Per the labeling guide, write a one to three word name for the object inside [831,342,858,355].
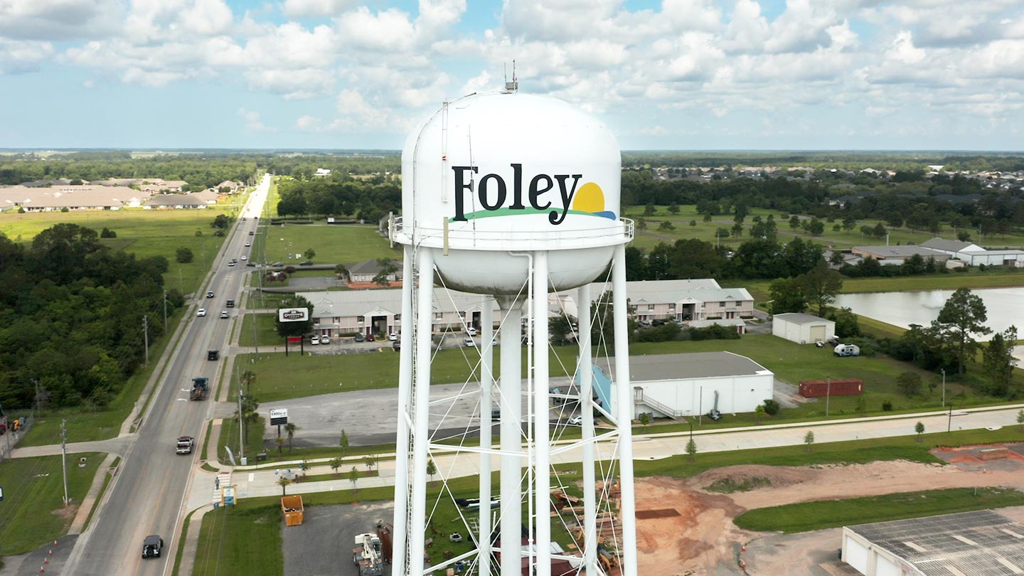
vehicle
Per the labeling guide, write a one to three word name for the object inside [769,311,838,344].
shed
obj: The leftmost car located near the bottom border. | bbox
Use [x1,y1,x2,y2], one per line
[140,536,160,556]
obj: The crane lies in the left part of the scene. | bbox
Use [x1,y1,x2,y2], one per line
[352,530,387,576]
